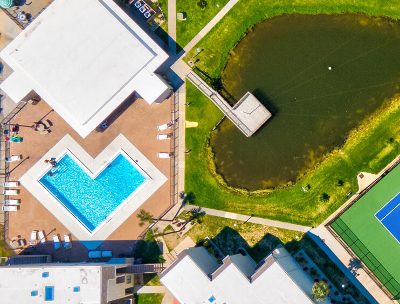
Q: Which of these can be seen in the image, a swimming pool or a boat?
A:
swimming pool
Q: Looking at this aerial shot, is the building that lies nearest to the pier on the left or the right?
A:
left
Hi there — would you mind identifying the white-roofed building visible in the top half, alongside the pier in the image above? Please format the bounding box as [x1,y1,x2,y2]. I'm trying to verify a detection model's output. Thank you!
[0,0,171,139]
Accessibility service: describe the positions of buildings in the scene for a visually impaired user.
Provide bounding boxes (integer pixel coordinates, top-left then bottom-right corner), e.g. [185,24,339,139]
[159,245,335,304]
[0,0,171,139]
[0,261,143,304]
